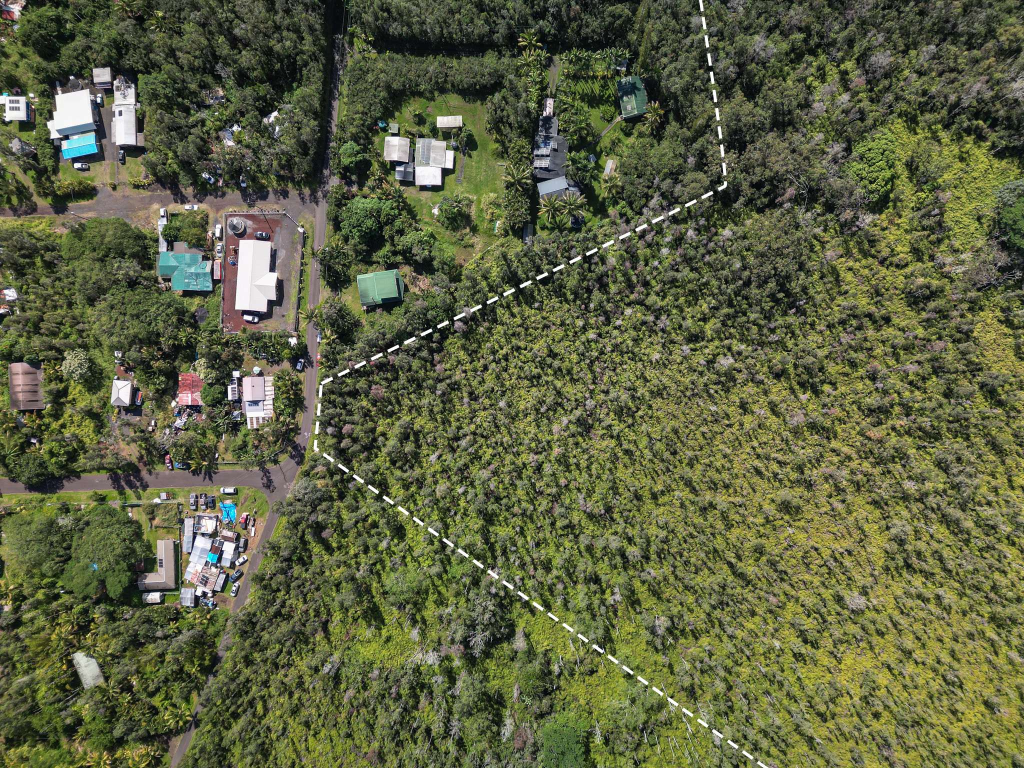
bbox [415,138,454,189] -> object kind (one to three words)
house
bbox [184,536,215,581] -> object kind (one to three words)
building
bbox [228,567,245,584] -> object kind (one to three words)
vehicle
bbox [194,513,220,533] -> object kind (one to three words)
shed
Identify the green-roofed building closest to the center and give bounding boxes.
[357,269,404,306]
